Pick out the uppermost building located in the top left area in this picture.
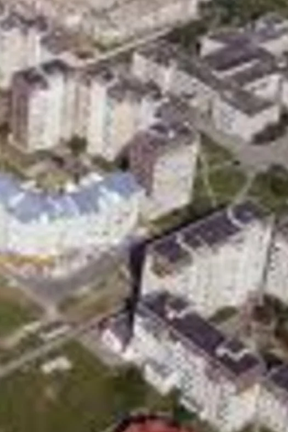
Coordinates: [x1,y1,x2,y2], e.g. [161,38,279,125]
[0,9,48,85]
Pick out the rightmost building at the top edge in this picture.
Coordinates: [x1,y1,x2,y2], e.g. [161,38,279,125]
[133,13,288,137]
